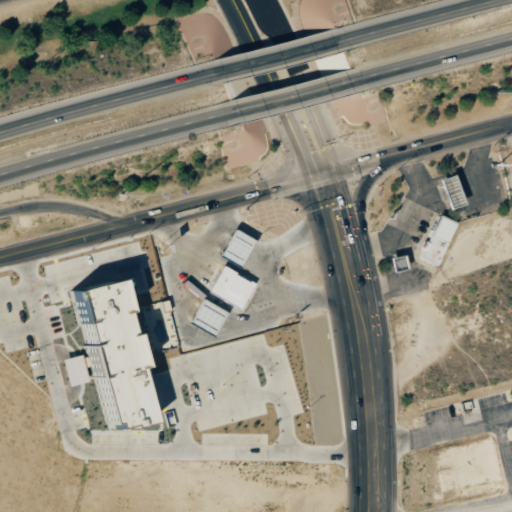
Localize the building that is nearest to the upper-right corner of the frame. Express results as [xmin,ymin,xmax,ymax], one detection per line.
[427,216,459,242]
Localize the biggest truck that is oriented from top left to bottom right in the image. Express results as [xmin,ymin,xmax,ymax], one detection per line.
[176,274,205,302]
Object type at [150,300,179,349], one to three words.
building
